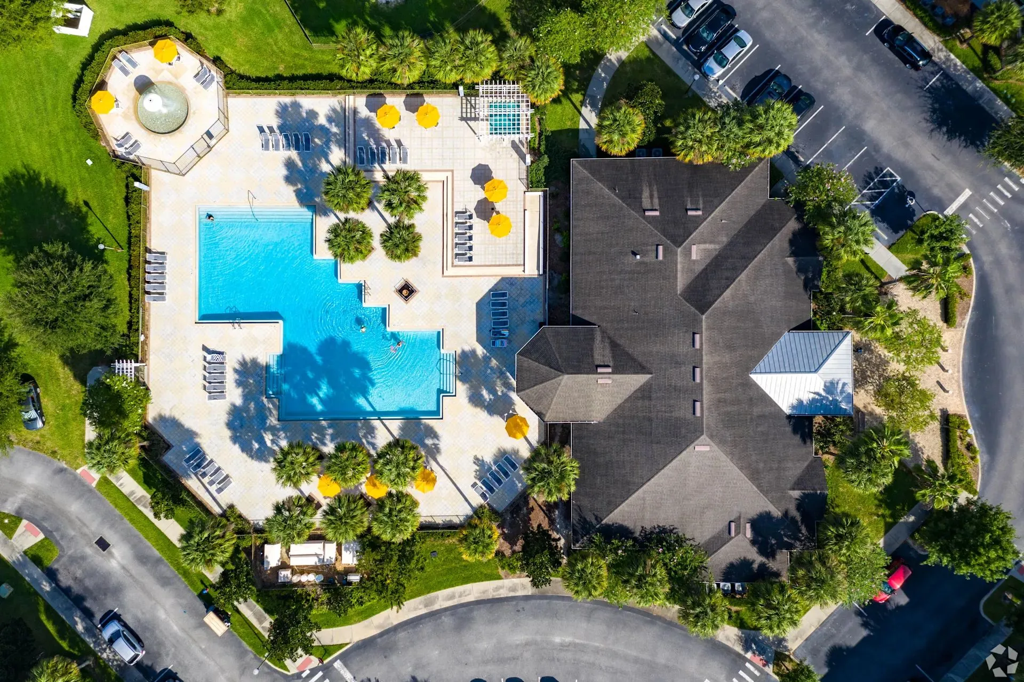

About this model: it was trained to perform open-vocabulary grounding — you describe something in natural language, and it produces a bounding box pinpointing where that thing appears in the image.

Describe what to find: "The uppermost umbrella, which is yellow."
[153,38,179,64]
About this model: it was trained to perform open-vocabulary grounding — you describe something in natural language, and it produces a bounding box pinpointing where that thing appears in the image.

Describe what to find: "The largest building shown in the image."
[515,158,853,583]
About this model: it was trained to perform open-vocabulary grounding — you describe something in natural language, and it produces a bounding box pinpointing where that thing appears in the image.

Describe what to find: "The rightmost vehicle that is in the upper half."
[881,22,934,72]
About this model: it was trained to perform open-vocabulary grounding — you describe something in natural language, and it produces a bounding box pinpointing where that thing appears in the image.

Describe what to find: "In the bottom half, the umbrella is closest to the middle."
[504,414,530,439]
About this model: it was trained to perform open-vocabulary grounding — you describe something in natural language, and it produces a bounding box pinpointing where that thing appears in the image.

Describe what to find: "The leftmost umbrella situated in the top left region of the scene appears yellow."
[91,90,116,115]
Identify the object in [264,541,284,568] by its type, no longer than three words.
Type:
shed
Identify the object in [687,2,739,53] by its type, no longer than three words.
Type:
car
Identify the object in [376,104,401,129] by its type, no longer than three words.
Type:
umbrella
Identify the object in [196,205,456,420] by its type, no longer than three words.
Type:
swimming pool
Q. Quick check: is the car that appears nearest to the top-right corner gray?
No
